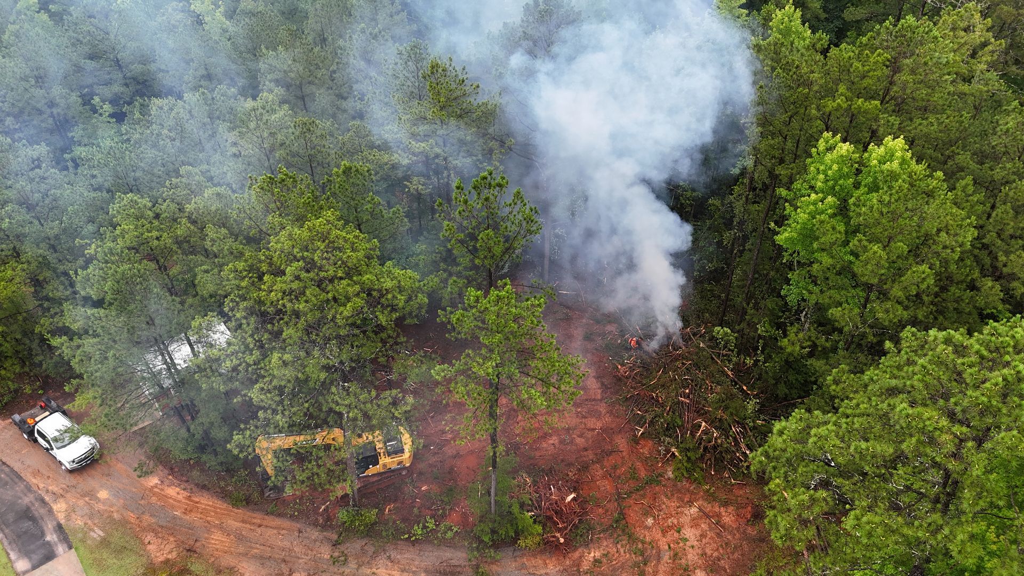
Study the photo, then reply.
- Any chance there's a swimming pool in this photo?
No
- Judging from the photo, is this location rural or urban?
rural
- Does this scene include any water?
No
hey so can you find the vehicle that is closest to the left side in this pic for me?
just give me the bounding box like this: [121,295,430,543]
[1,392,101,471]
